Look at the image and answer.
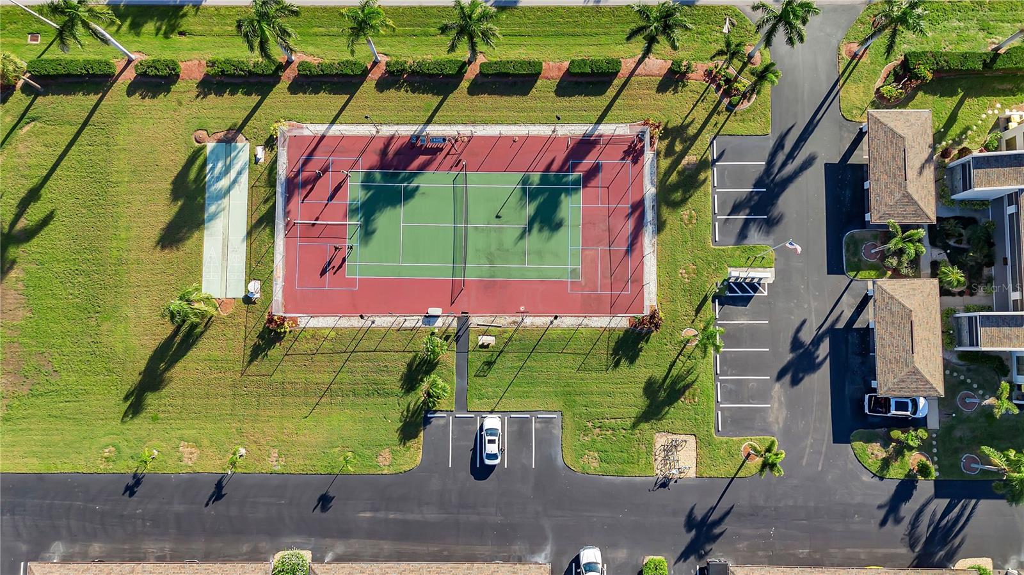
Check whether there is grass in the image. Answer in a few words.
Yes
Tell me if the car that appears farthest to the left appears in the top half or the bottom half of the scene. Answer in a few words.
bottom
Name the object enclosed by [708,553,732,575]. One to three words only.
vehicle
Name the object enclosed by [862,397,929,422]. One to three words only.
truck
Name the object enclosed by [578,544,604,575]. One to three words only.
truck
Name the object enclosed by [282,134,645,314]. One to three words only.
tennis court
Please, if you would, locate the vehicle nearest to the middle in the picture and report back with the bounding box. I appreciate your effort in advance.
[481,416,504,467]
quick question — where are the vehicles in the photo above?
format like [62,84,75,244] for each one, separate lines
[481,416,504,467]
[862,397,929,422]
[578,544,604,575]
[708,553,732,575]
